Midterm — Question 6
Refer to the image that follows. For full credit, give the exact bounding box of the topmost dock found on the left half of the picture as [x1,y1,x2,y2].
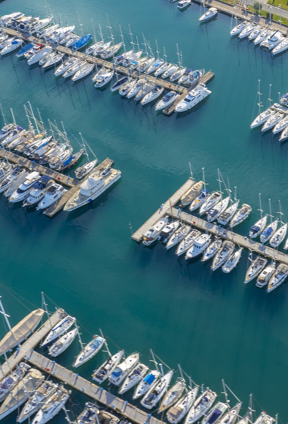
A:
[1,26,188,92]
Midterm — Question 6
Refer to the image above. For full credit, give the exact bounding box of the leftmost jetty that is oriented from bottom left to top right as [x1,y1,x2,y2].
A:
[0,309,66,379]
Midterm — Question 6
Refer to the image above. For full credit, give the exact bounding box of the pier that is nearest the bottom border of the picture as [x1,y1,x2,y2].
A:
[19,348,173,424]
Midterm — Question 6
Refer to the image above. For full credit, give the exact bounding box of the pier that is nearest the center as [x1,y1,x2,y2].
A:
[129,180,196,241]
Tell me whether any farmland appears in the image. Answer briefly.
No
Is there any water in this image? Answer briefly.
Yes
